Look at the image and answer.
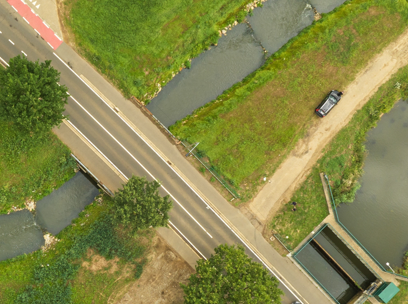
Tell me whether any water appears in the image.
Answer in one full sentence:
Yes, some water is visible.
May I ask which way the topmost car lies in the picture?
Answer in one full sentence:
In this picture, the topmost car is oriented on a diagonal.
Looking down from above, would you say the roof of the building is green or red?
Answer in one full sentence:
The roof of the building looks green in the image.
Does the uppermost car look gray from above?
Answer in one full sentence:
Yes, gray is the color of the uppermost car.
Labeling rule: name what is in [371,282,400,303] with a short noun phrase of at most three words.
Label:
building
